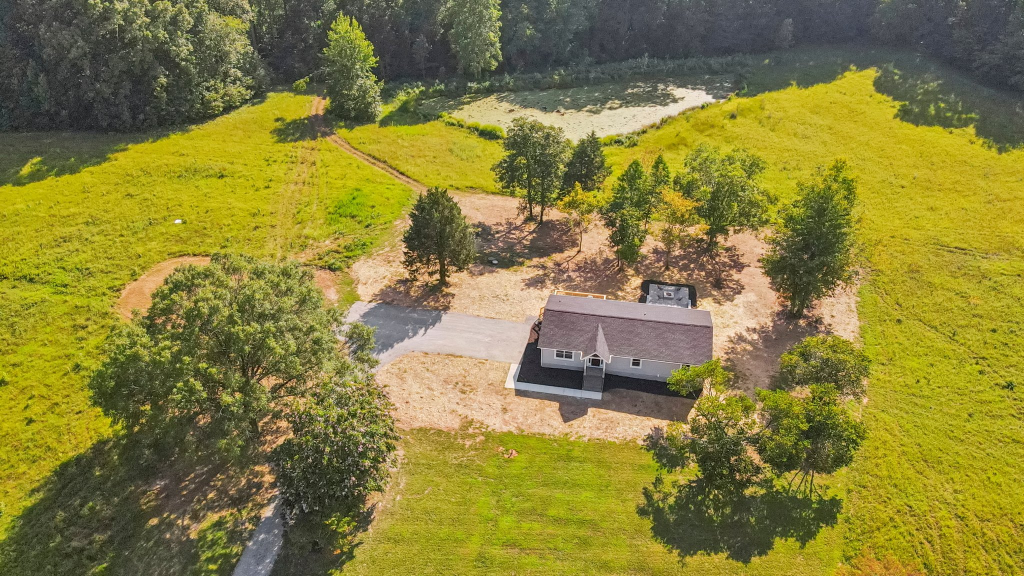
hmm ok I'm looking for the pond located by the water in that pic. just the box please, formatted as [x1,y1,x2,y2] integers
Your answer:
[428,79,740,148]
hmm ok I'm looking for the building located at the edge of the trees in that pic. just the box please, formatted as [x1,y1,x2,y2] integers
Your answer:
[538,295,713,390]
